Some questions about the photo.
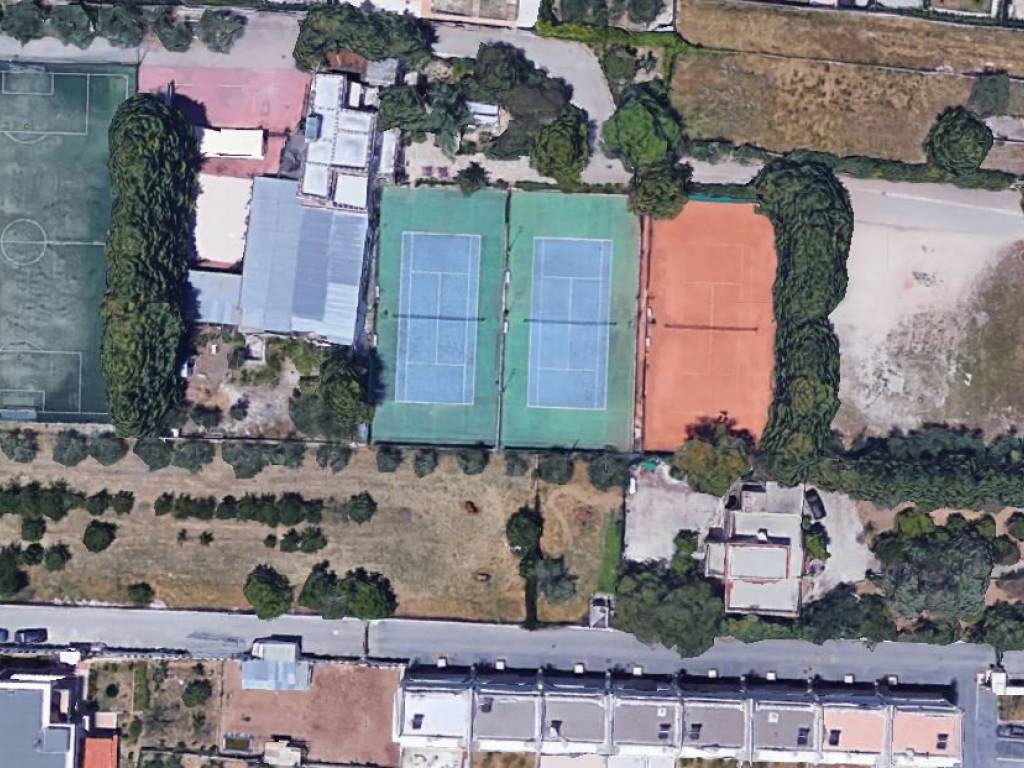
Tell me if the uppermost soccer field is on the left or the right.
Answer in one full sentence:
The uppermost soccer field is on the left side of the image.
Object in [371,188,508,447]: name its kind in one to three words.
tennis court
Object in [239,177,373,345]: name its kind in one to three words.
building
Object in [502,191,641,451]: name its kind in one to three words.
tennis court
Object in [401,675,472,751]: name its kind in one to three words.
house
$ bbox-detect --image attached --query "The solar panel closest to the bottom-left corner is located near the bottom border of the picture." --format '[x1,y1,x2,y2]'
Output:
[412,714,425,731]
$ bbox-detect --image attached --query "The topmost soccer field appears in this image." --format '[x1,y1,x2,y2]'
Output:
[0,63,135,416]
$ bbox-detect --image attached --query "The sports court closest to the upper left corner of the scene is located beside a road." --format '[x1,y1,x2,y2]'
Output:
[138,67,311,178]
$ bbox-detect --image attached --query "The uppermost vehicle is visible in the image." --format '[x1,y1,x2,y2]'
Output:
[807,487,825,520]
